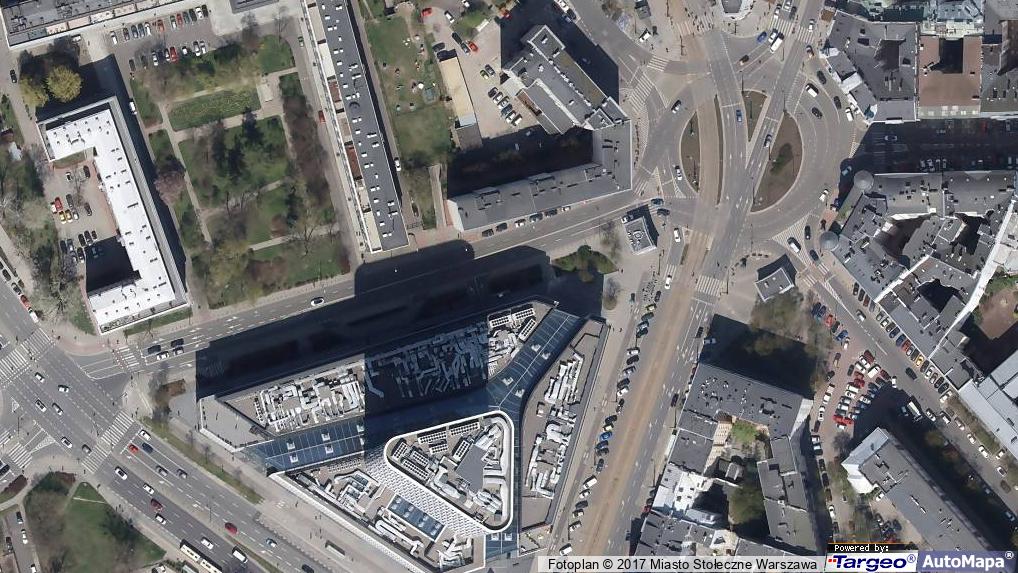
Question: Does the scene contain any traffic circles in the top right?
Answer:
Yes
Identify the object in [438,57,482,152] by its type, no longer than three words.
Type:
shed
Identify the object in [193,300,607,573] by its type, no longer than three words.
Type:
building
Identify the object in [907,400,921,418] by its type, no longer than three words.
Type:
vehicle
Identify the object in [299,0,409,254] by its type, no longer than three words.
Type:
building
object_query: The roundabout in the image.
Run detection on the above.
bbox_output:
[632,38,862,256]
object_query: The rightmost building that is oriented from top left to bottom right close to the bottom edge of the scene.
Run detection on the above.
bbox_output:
[833,428,1018,573]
